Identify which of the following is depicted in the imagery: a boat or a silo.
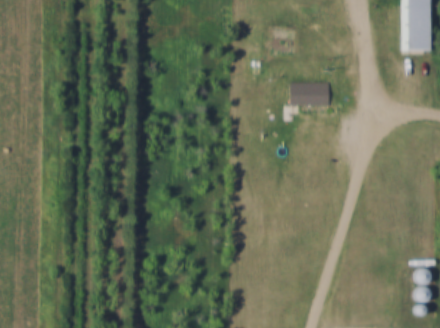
silo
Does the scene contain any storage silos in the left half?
No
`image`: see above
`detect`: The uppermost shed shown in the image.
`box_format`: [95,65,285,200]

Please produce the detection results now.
[400,0,432,54]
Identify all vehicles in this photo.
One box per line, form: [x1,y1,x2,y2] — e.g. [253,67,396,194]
[404,56,412,76]
[422,62,428,76]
